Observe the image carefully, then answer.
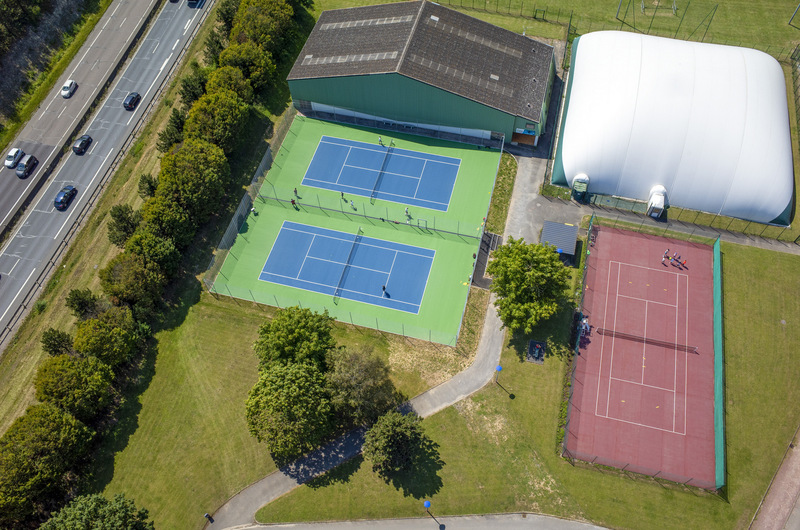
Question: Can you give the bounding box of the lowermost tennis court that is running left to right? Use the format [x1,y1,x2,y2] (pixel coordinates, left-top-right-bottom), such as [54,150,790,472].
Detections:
[213,199,480,345]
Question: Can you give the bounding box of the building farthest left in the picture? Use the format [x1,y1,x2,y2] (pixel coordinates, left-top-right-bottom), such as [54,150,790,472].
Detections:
[286,0,556,148]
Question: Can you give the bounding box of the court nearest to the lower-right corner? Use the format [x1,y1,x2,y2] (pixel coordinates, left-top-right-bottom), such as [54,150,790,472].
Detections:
[565,224,722,493]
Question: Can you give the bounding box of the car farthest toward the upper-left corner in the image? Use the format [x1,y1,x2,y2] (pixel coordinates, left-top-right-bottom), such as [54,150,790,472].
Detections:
[60,81,77,98]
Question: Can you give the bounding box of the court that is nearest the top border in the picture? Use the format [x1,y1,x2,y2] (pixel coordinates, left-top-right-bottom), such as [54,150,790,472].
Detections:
[256,116,500,240]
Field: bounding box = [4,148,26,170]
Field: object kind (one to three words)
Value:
car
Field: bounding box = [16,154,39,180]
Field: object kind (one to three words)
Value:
car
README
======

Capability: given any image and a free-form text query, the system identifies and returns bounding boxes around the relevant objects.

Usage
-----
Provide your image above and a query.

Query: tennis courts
[256,116,500,240]
[565,224,722,493]
[213,199,480,345]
